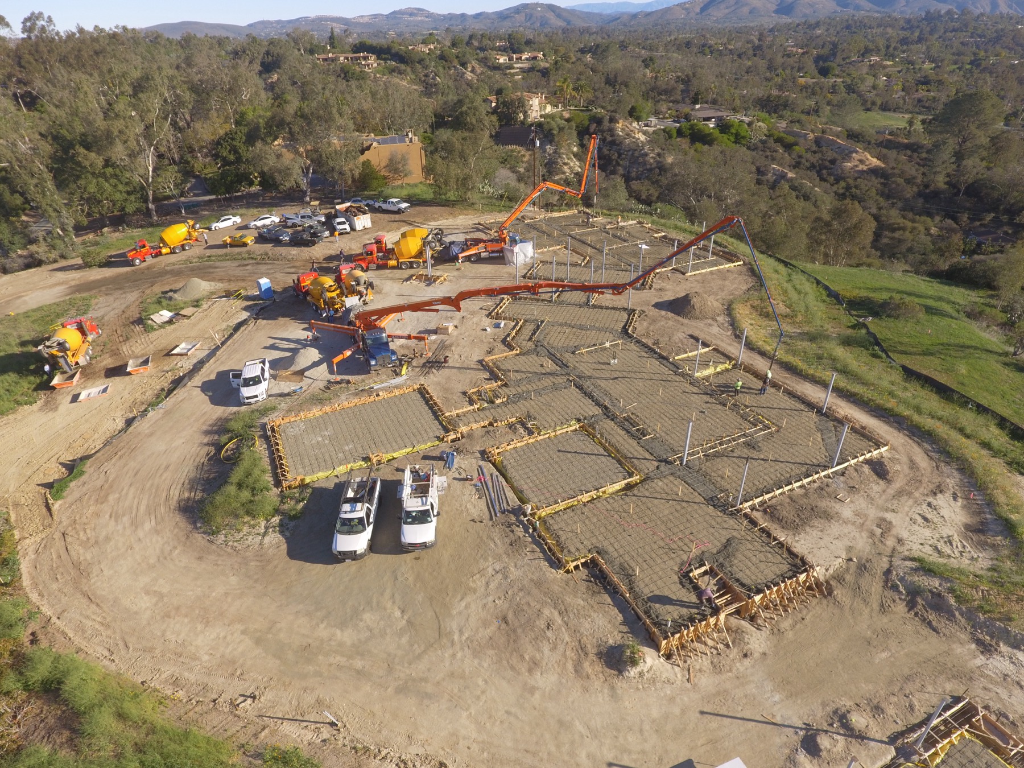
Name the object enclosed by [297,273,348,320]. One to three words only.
truck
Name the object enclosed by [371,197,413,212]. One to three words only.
vehicle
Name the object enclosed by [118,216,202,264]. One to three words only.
truck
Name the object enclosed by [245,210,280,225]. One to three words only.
car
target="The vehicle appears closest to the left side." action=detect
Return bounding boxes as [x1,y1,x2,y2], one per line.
[34,313,101,373]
